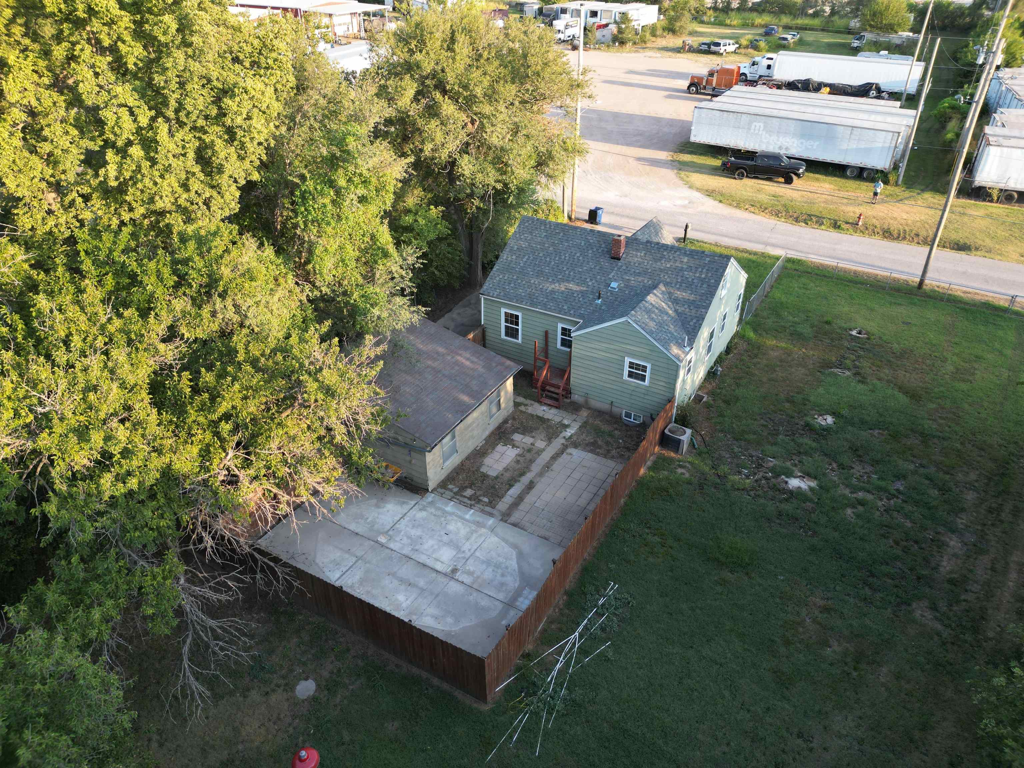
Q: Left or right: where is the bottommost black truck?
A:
right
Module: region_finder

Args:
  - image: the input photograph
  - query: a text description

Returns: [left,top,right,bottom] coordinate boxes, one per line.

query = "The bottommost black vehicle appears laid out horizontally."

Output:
[721,150,810,185]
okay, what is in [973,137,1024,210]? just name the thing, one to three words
trailer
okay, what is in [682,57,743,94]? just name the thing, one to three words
truck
